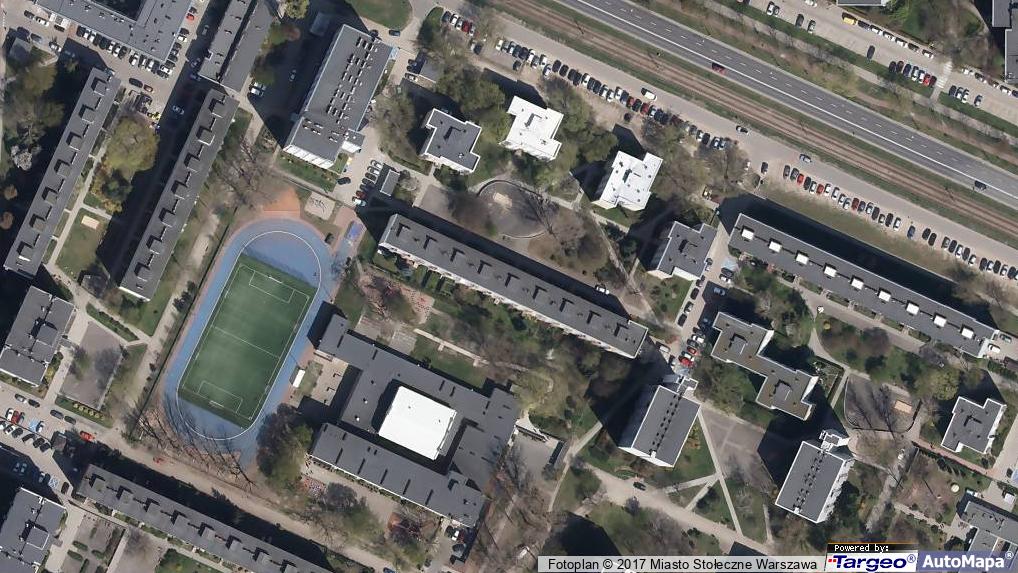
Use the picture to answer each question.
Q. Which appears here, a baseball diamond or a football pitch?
football pitch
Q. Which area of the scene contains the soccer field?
left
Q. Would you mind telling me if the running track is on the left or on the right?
left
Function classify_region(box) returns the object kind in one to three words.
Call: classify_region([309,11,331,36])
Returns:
shed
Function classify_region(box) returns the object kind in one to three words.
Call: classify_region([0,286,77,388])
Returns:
building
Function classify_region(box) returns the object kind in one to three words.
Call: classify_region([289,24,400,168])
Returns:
building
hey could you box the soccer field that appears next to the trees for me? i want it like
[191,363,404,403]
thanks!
[177,254,317,429]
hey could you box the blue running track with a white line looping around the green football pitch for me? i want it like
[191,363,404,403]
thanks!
[154,213,342,472]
